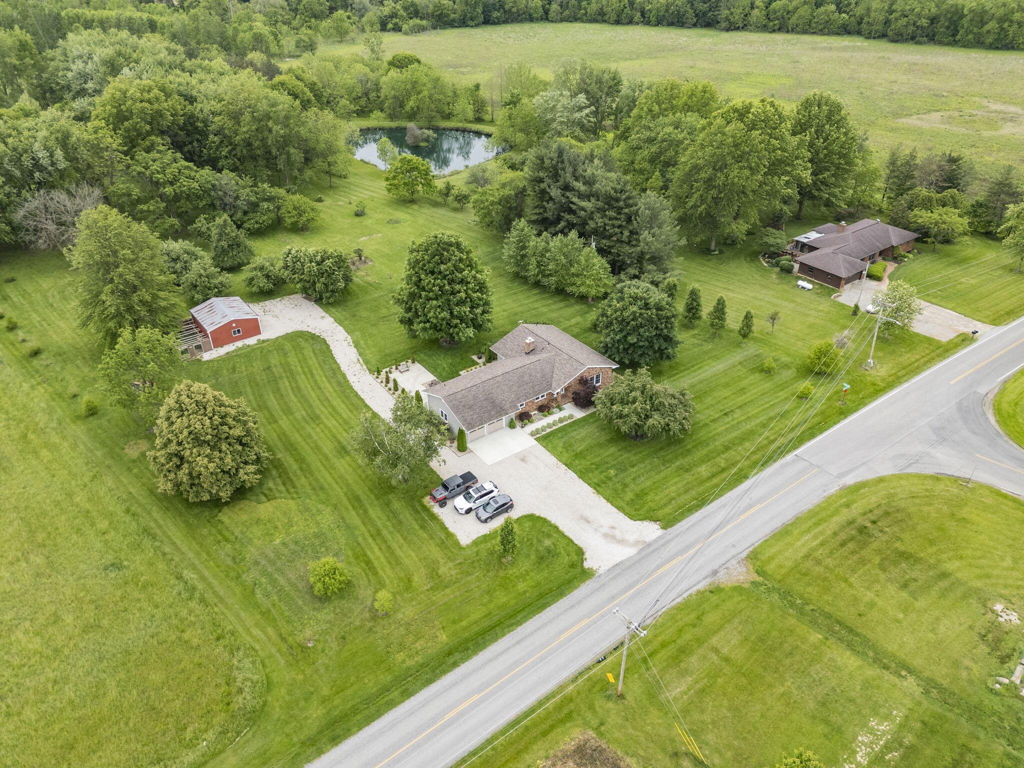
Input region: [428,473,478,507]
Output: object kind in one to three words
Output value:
truck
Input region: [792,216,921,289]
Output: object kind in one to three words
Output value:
house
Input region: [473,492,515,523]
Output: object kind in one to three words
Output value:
car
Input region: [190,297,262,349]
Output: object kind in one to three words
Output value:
barn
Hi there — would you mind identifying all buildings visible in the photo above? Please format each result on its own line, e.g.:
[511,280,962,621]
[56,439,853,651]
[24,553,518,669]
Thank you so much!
[190,297,262,349]
[421,318,620,443]
[792,216,921,289]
